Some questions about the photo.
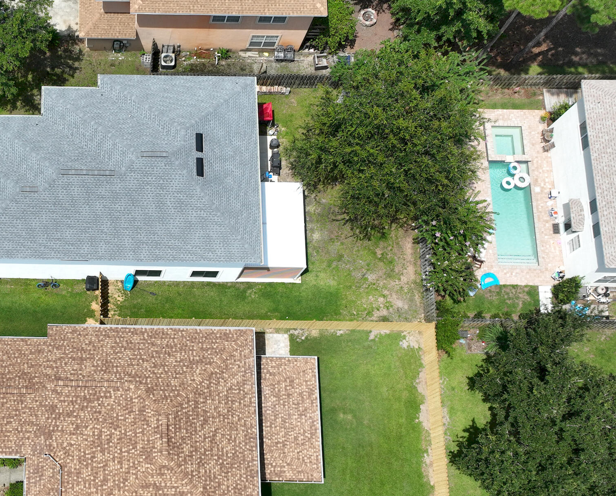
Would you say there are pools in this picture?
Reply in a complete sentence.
Yes, a pool is visible in the scene.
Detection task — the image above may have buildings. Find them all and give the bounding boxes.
[551,78,616,286]
[0,324,325,496]
[0,74,308,280]
[77,0,328,54]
